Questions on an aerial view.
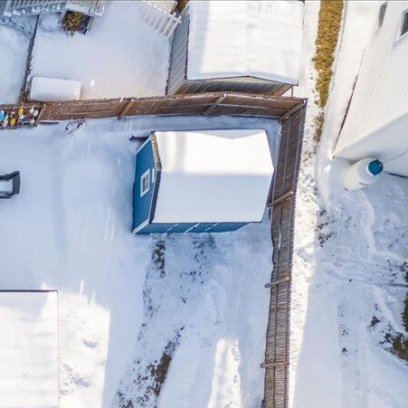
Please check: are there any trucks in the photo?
No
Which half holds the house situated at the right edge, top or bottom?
top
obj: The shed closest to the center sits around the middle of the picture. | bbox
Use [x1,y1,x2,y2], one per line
[135,129,273,233]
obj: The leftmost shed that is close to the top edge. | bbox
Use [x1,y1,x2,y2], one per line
[168,0,302,97]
